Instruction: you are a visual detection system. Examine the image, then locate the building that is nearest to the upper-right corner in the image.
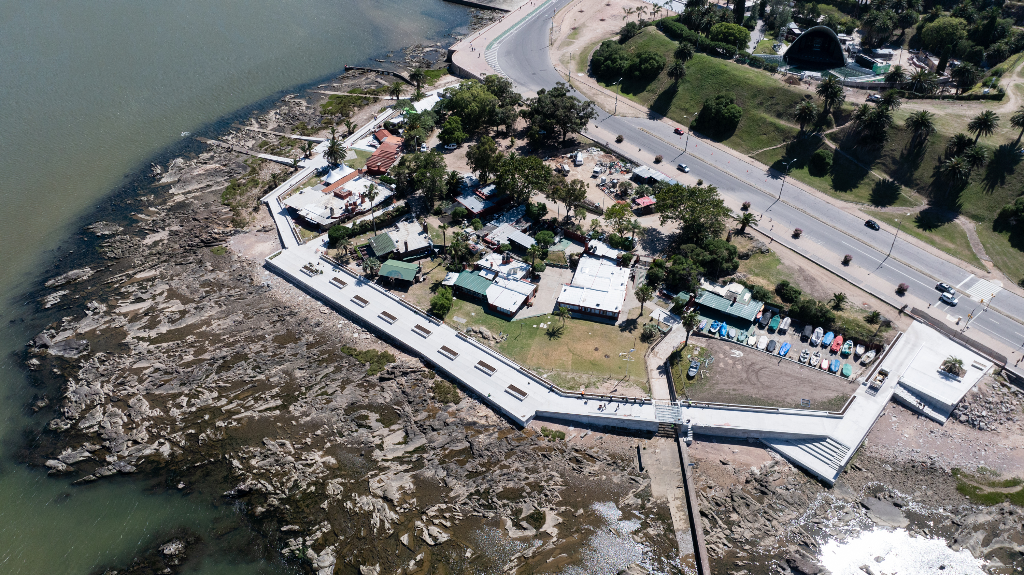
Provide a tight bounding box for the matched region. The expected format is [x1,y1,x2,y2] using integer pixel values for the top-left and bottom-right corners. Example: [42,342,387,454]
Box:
[910,51,939,72]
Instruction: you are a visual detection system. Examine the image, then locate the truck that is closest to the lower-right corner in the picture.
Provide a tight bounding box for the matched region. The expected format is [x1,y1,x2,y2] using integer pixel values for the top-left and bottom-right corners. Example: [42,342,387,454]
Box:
[864,361,895,393]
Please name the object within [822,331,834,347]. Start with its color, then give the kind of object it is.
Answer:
blue boat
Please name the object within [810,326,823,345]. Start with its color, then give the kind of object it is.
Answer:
white boat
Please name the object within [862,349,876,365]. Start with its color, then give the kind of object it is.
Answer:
white boat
